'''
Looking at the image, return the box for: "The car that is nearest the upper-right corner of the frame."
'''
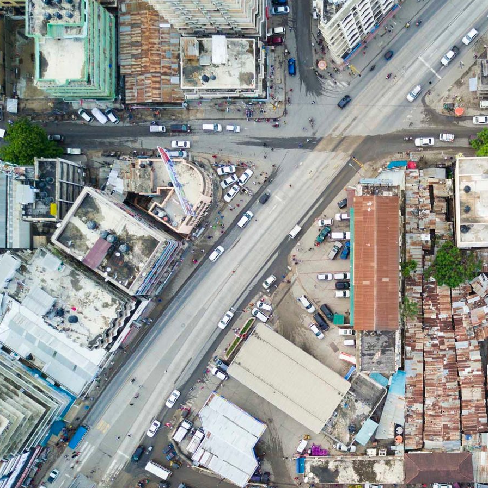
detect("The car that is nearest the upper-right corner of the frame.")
[462,27,479,45]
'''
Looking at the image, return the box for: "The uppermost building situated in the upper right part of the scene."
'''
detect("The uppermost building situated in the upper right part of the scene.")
[321,0,398,63]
